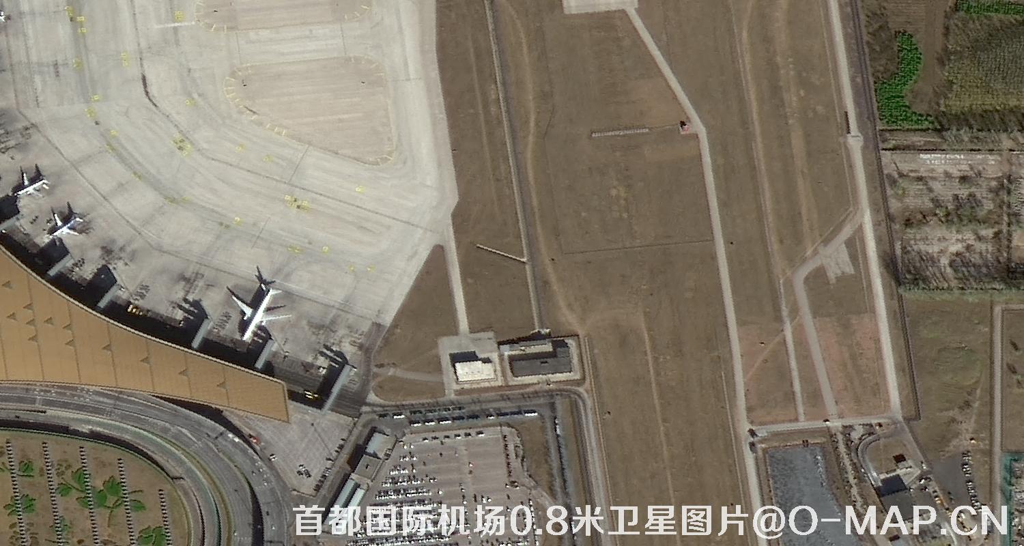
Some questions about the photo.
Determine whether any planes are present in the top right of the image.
No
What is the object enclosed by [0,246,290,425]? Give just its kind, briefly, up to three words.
building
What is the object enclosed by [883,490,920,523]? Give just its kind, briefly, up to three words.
building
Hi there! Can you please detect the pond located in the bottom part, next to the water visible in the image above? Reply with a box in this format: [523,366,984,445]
[767,445,853,546]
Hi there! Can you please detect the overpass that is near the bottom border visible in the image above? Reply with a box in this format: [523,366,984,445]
[0,383,287,546]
